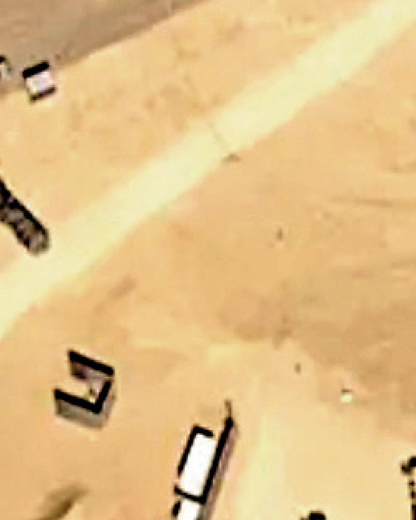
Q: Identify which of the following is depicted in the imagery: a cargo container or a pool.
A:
cargo container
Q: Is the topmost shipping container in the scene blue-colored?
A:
No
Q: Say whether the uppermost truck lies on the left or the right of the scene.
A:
left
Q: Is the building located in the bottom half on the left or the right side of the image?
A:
left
